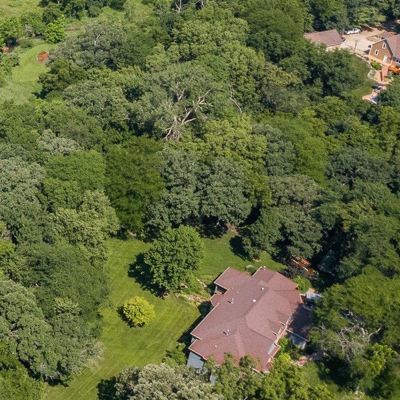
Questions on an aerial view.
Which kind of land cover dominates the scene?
trees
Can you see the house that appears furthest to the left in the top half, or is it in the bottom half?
bottom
